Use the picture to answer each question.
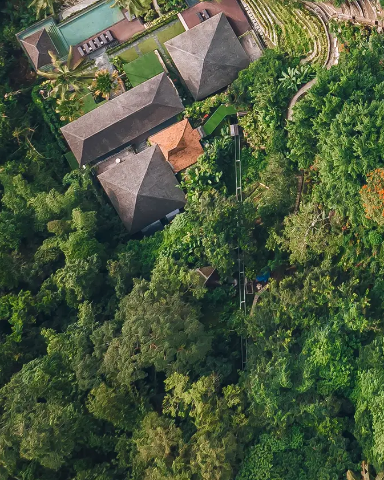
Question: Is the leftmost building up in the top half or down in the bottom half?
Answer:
top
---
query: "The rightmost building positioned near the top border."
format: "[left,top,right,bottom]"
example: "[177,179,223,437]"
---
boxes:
[164,11,252,102]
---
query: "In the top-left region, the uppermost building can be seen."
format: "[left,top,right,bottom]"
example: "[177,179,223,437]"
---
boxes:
[20,27,63,71]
